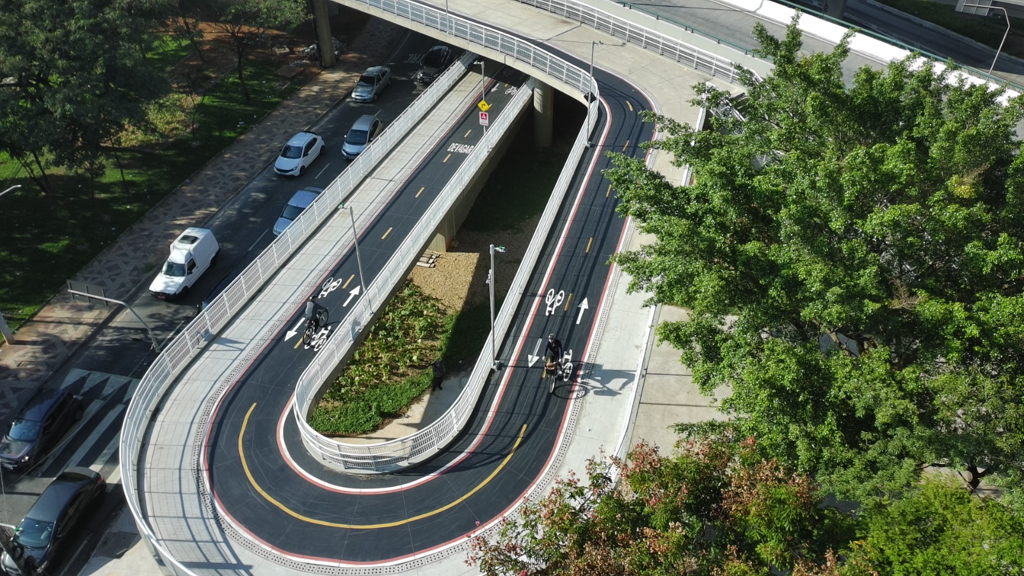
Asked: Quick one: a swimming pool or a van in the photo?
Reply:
van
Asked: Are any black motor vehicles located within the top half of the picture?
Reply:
Yes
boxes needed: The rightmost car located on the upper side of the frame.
[414,42,454,81]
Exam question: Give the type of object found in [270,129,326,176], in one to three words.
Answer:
car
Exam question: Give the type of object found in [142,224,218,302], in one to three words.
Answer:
van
